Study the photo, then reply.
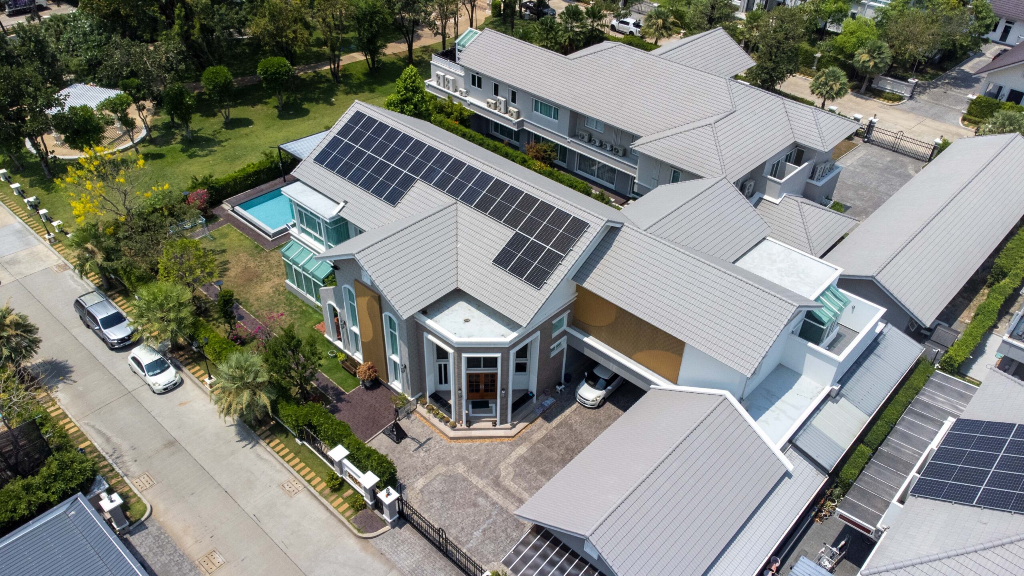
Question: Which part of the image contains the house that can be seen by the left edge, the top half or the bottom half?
bottom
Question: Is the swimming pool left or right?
left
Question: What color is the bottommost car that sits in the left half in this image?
white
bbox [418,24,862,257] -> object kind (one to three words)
house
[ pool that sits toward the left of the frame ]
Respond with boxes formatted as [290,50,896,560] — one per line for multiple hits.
[223,179,300,245]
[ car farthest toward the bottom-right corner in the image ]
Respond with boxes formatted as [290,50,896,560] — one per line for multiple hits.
[578,364,631,408]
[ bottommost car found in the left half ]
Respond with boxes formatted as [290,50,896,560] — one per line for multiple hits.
[127,341,184,395]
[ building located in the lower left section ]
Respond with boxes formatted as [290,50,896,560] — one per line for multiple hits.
[0,492,149,576]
